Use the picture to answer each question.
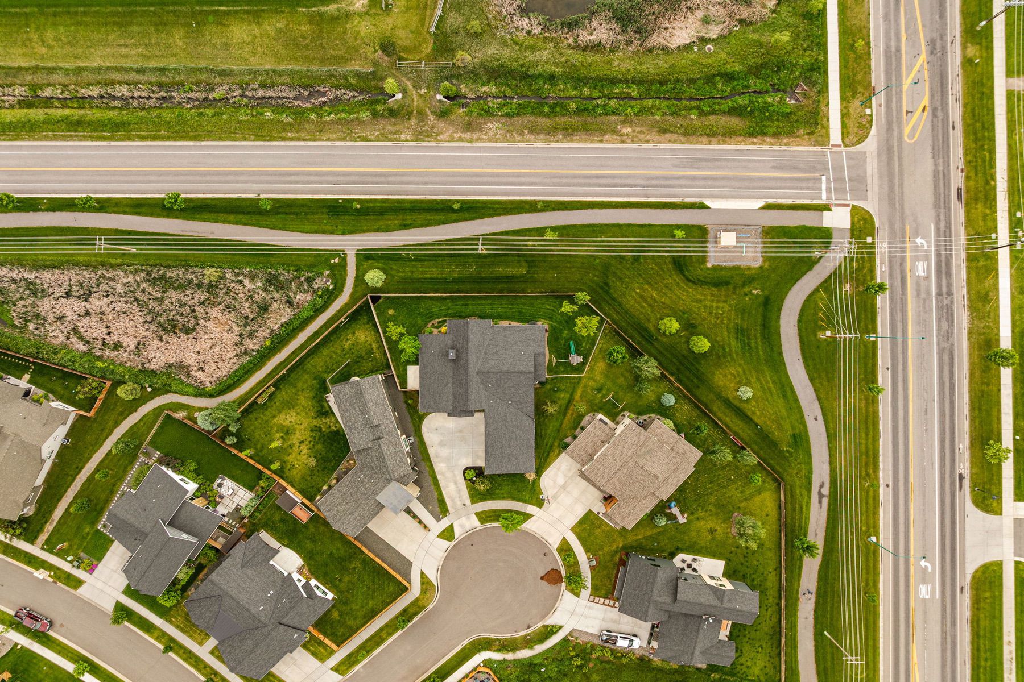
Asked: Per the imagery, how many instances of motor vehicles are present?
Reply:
2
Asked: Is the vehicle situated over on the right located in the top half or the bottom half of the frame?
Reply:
bottom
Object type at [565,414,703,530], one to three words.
house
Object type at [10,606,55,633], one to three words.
truck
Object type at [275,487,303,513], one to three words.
shed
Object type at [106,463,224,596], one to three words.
house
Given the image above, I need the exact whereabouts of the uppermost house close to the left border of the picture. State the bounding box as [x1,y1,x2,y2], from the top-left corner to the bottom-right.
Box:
[0,371,85,520]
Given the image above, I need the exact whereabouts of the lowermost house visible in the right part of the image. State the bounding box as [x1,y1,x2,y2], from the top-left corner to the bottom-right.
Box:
[615,553,759,667]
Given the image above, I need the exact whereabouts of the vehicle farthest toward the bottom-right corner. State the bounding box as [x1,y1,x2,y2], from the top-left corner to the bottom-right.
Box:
[597,630,639,650]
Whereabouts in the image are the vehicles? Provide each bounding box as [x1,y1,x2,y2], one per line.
[10,606,55,633]
[597,630,639,650]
